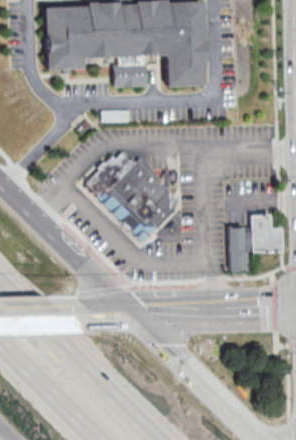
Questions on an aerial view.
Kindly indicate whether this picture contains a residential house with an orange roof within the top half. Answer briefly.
No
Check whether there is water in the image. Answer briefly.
No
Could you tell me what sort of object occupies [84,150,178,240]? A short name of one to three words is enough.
building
